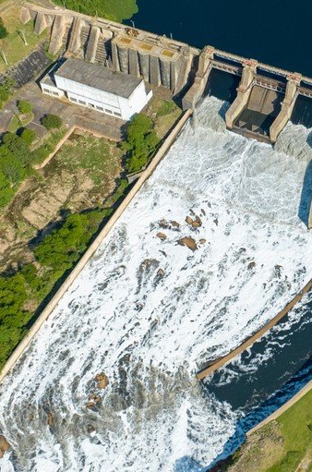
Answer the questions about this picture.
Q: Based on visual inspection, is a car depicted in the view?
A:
No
